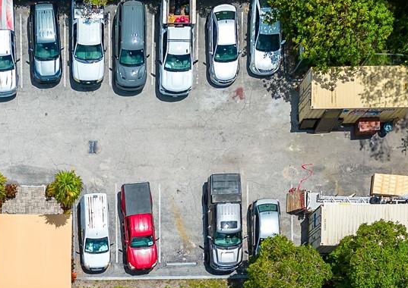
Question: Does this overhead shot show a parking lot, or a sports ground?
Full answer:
This image shows a parking lot.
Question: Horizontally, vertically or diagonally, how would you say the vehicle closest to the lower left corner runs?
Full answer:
The vehicle closest to the lower left corner is oriented vertically.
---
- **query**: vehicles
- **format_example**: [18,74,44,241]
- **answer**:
[78,190,114,274]
[158,0,198,98]
[111,2,149,92]
[121,180,160,273]
[205,171,247,275]
[0,0,19,100]
[70,0,108,87]
[248,0,287,76]
[248,201,283,280]
[205,7,242,89]
[27,1,64,85]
